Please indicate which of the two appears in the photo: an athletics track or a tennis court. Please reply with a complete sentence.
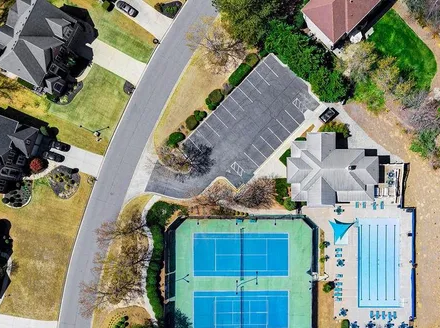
Looking from above, you can make out a tennis court.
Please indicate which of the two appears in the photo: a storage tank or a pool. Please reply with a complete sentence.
The one in the frame is a pool.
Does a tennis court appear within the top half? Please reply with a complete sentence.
No, there's no tennis court to be seen within the top half.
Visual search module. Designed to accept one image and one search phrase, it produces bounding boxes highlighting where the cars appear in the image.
[116,0,136,16]
[47,141,68,152]
[41,150,62,162]
[319,107,336,122]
